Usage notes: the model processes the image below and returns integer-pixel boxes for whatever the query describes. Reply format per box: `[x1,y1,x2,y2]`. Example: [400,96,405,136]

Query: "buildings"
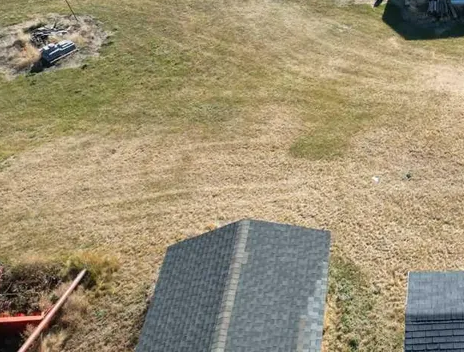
[404,269,464,352]
[133,217,332,352]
